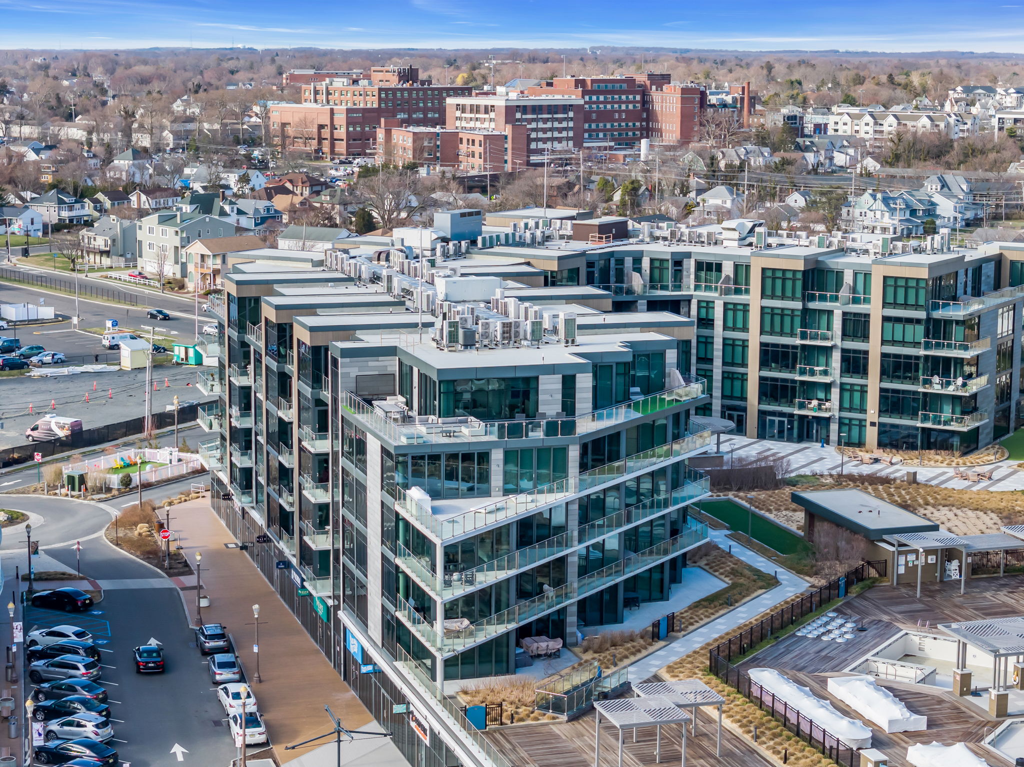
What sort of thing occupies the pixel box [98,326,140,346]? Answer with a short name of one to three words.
vehicle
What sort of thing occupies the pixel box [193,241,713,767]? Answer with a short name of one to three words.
building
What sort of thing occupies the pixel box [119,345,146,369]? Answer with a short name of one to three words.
shed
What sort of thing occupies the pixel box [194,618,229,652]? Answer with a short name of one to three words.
car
